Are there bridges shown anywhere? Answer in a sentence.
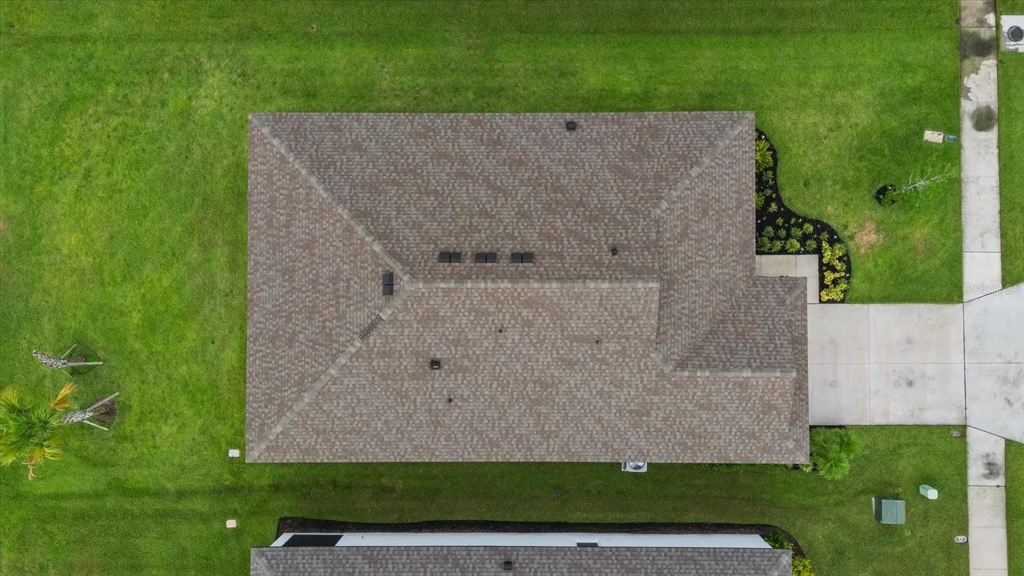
No, there appears to be no bridge in this shot.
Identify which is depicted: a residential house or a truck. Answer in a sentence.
This aerial view contains a residential house.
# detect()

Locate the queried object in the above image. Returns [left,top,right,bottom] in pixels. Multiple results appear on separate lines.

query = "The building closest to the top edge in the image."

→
[246,111,809,463]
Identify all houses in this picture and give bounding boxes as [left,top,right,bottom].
[246,111,809,463]
[251,532,792,576]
